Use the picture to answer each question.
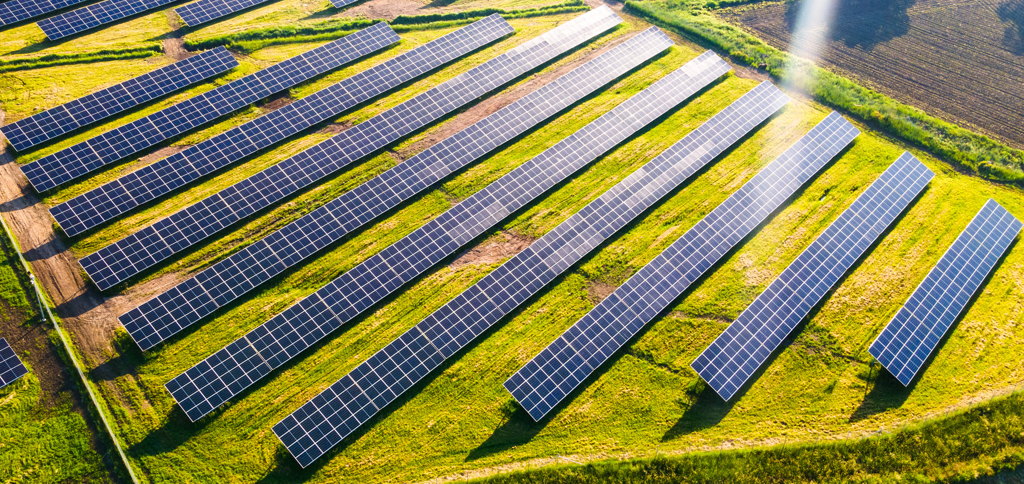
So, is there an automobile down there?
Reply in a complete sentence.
No, there is no automobile in the image.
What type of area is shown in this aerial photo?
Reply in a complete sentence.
The area seen from above is a solar farm.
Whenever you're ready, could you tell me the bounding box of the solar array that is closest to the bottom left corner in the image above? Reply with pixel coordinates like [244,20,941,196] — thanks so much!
[0,338,30,396]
